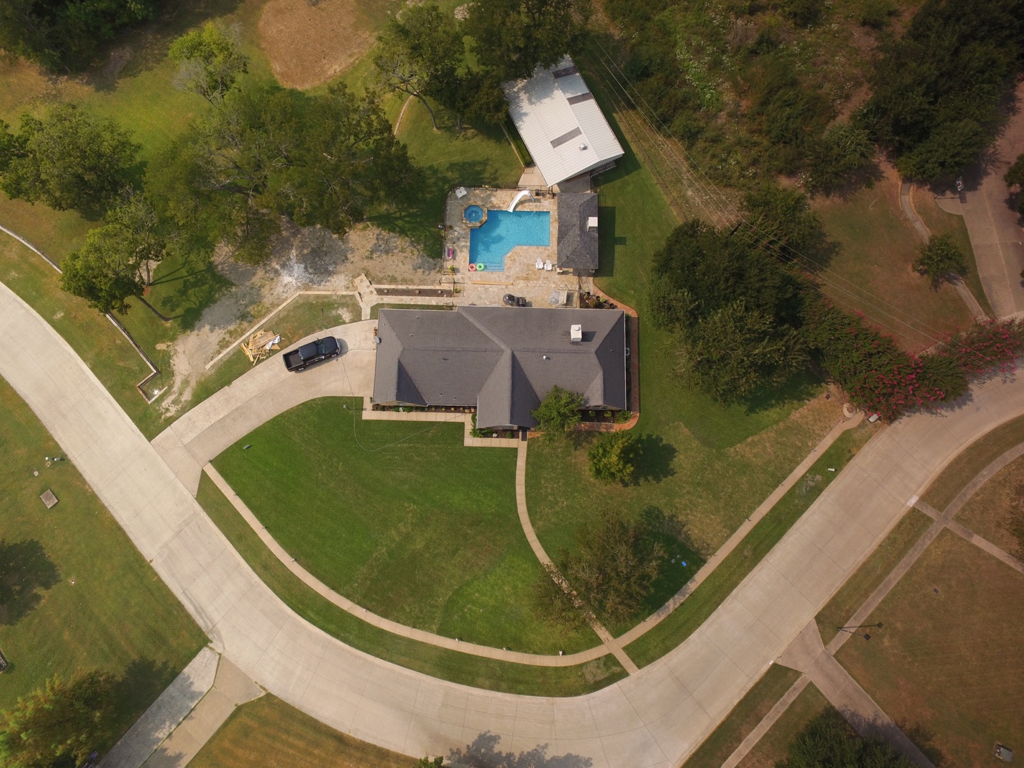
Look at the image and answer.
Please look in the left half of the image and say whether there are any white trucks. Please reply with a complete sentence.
No, no white truck is visible in the left half of the image.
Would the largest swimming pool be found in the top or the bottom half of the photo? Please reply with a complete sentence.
The largest swimming pool sits in the top half of the picture.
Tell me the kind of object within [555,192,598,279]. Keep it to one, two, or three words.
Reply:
building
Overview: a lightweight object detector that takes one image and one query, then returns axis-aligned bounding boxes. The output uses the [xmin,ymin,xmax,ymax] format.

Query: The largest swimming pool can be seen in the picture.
[466,207,553,274]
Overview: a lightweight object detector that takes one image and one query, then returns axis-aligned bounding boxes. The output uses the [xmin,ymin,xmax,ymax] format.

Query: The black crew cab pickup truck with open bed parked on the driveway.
[282,340,340,372]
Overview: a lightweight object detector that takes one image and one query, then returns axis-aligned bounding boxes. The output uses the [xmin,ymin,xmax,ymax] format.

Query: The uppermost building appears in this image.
[494,53,625,193]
